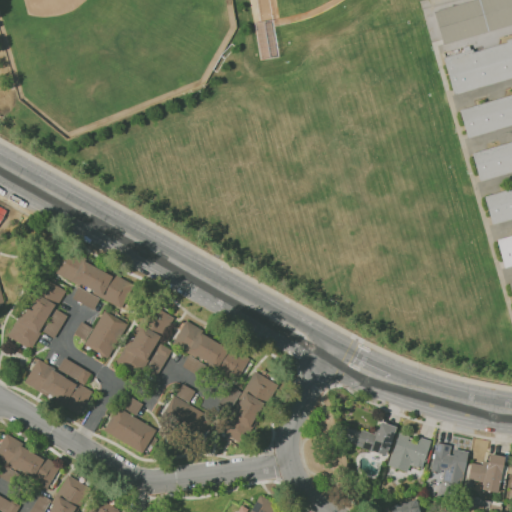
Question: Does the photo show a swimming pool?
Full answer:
Yes, there's a swimming pool here.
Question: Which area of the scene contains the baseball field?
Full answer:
Look in the top left portion of the view to spot the baseball field.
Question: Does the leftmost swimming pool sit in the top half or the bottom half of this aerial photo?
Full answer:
Seen from above, the leftmost swimming pool lies in the bottom half of the view.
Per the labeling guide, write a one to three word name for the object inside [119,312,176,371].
house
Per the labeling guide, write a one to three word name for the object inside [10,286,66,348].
house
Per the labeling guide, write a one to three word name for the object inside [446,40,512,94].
building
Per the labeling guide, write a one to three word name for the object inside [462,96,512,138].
building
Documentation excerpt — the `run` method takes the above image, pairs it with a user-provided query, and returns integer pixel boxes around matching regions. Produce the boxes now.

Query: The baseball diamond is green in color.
[0,0,236,138]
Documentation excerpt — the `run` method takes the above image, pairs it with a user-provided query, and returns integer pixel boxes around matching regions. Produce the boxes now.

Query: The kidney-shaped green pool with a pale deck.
[358,452,386,479]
